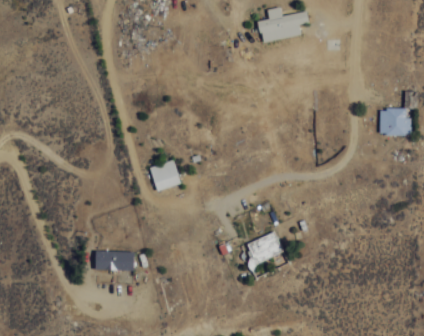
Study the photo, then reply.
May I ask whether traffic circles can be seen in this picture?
No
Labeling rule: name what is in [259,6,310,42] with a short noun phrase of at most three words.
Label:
house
